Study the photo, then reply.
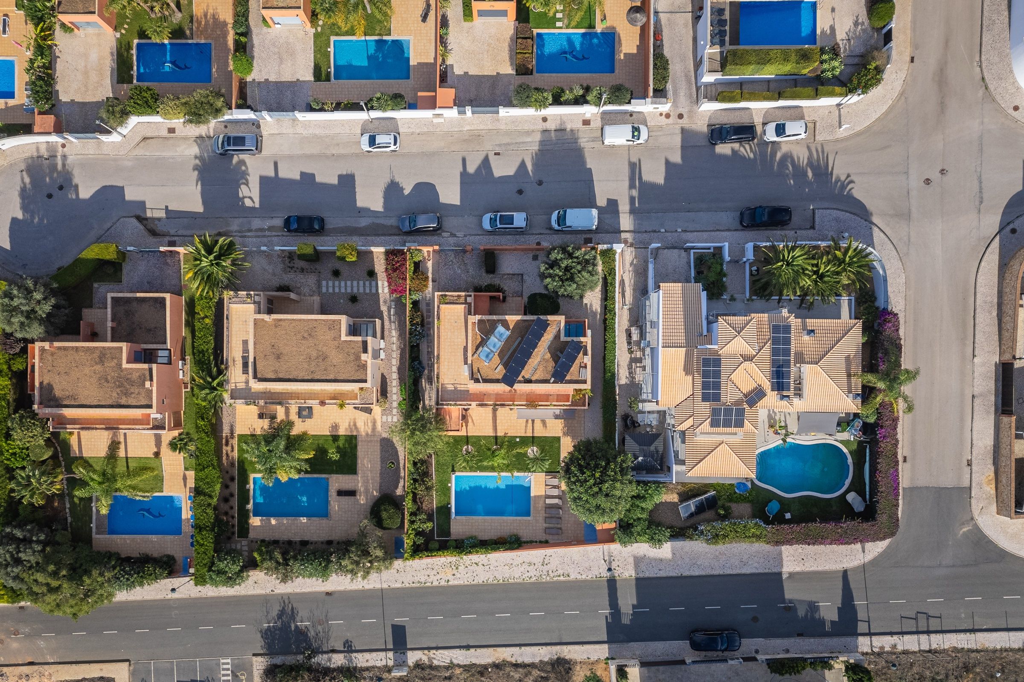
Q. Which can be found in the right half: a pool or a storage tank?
pool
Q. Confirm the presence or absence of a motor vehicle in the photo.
Yes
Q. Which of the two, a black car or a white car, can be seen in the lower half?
black car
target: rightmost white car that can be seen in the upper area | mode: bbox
[764,121,806,143]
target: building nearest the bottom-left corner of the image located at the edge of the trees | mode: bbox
[28,293,195,431]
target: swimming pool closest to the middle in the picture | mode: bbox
[451,472,533,520]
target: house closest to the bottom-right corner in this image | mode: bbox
[652,283,863,483]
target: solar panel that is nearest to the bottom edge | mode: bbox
[678,492,718,520]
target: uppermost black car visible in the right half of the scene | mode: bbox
[709,124,755,147]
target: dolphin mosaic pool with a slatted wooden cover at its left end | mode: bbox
[93,492,185,538]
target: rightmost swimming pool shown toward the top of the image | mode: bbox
[726,0,820,48]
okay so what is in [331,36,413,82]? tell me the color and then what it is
blue swimming pool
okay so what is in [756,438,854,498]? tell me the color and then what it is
blue swimming pool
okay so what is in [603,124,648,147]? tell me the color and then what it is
white vehicle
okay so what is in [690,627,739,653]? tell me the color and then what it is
black car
